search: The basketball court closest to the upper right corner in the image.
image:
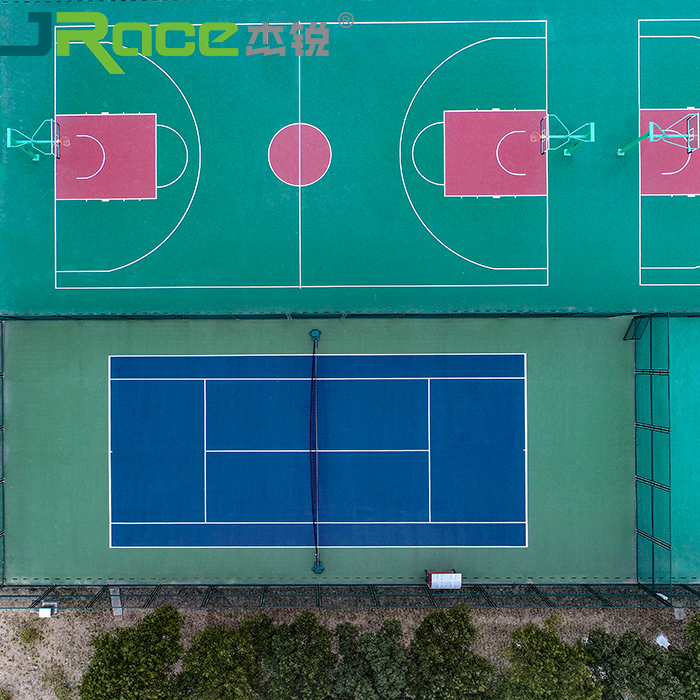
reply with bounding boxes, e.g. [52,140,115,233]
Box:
[639,18,700,285]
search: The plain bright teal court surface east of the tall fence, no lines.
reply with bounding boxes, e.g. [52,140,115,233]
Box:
[636,317,700,584]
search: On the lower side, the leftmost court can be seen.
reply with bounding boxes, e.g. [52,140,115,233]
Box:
[0,315,637,586]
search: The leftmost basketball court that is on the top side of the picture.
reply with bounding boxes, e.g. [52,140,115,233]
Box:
[54,21,549,290]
